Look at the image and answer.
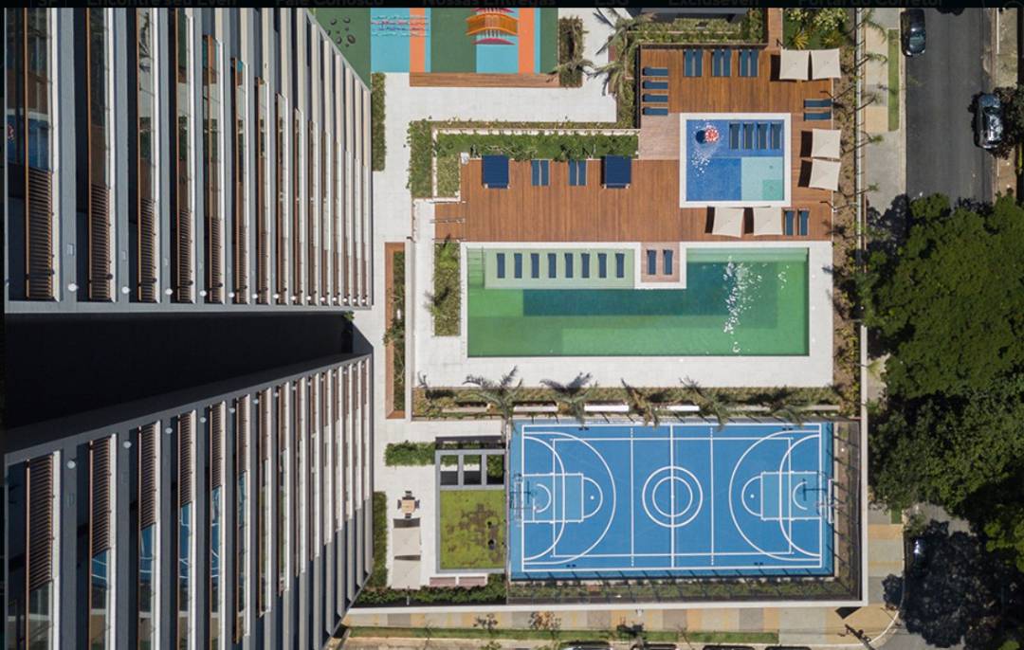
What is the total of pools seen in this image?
two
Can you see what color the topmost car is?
black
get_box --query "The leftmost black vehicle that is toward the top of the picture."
[899,10,927,59]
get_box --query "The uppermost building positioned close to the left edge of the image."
[0,0,371,312]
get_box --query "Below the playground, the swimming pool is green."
[462,242,815,361]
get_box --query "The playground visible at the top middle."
[300,0,558,91]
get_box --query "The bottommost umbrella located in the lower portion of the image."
[392,559,421,589]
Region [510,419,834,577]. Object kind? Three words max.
sports court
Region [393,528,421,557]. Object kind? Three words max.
umbrella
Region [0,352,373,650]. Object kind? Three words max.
building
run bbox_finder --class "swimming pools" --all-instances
[462,242,815,361]
[680,113,791,206]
